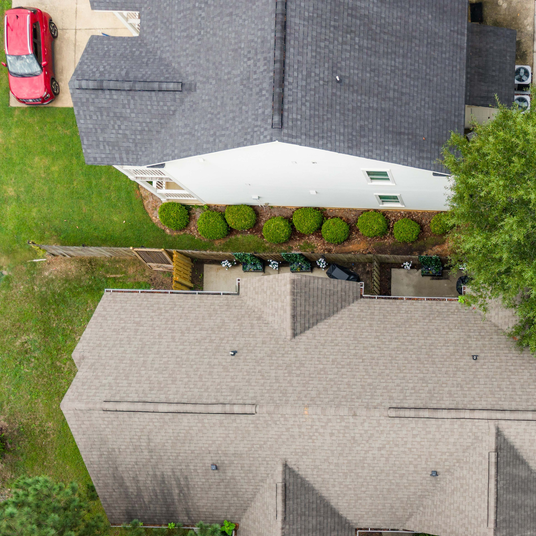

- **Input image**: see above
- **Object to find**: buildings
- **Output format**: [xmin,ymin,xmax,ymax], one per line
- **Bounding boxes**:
[68,0,517,210]
[59,274,536,536]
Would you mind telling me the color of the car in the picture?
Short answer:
red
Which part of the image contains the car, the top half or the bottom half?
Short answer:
top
